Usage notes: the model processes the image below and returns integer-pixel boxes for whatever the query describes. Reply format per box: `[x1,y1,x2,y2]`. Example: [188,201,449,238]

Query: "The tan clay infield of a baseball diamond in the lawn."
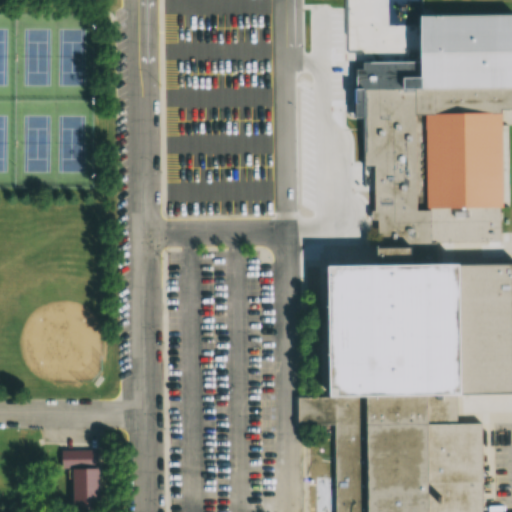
[20,300,104,382]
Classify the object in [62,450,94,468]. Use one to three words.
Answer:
house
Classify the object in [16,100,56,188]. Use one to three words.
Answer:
tennis court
